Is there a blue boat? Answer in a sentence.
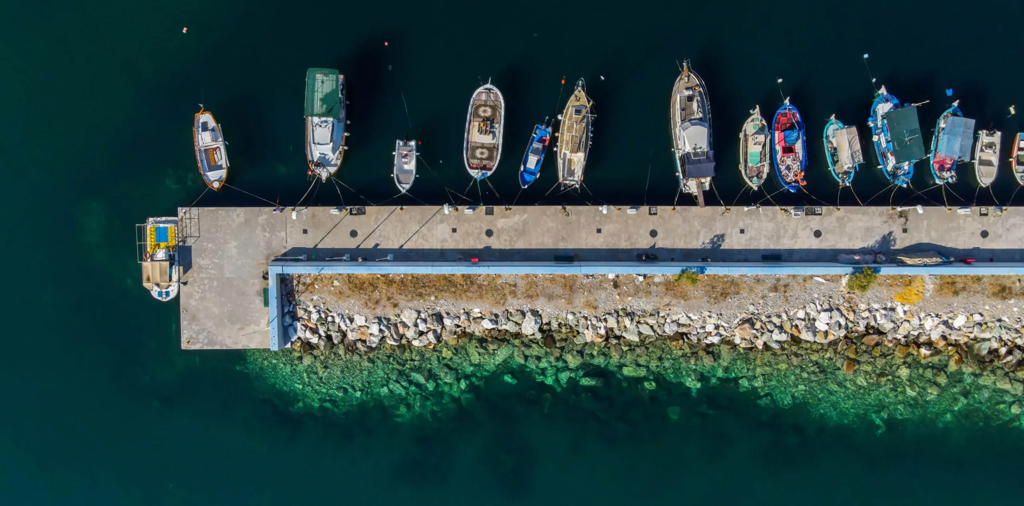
Yes, a blue boat appears in the view.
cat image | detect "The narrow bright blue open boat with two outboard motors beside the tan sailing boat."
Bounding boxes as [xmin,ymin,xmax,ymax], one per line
[520,116,553,189]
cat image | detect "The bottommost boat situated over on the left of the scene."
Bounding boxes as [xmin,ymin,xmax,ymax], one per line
[136,217,180,301]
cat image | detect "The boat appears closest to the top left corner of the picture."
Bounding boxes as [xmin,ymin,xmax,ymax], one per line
[193,104,229,191]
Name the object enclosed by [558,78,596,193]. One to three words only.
boat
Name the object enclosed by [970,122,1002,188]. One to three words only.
boat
